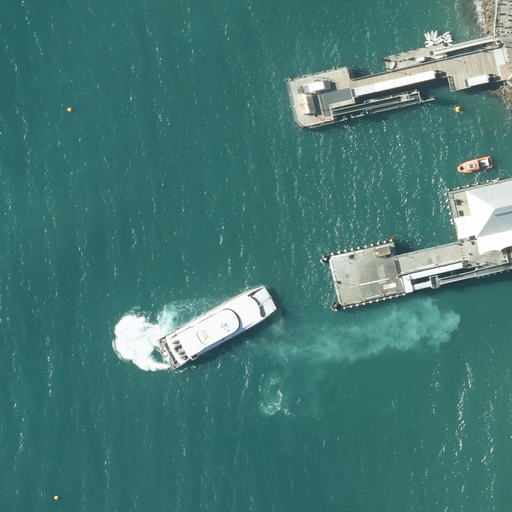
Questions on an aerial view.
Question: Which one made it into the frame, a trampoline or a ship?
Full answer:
Visible in the photo is a ship.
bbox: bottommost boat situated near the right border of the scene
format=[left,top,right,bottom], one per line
[458,157,494,172]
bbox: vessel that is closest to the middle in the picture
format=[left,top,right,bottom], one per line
[158,286,276,369]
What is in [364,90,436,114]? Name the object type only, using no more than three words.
pier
